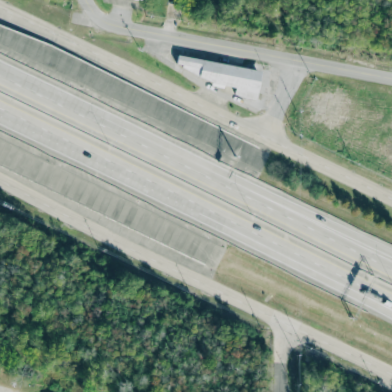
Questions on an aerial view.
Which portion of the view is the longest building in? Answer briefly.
top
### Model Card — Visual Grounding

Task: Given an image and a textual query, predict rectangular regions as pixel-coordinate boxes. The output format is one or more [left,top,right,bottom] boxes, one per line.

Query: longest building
[178,56,262,98]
